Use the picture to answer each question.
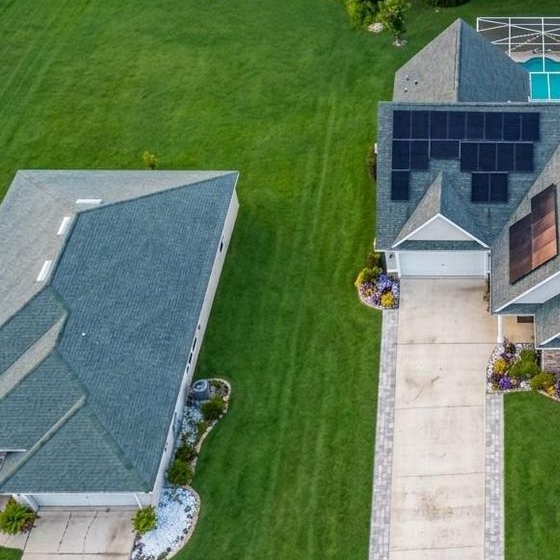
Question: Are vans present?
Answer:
No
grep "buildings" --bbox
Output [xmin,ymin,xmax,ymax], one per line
[373,17,560,373]
[0,169,240,508]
